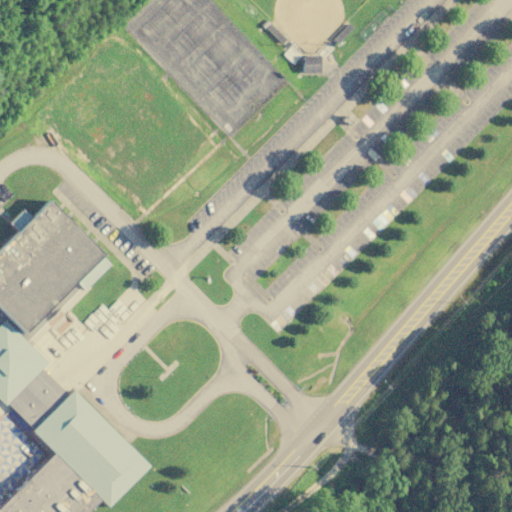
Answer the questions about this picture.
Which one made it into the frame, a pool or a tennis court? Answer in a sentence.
Visible in the photo is a tennis court.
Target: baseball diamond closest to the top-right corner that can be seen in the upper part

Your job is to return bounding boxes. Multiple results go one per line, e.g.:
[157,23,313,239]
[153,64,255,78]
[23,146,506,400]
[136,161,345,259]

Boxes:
[255,0,368,53]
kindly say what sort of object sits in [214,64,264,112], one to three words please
tennis court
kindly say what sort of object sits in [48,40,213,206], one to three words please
sports field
